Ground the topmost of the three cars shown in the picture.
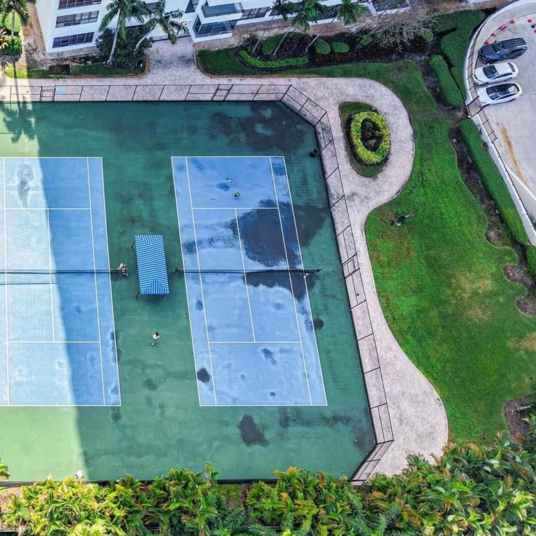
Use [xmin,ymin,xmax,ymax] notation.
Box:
[479,35,531,67]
